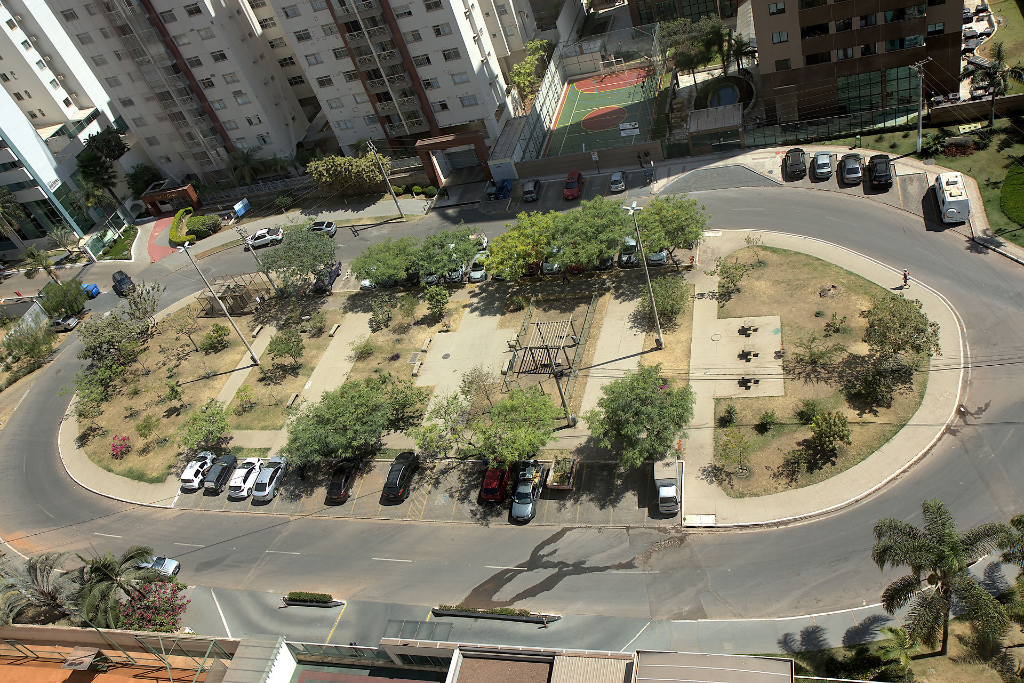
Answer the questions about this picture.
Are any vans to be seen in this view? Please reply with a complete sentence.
Yes, a van can be made out from above.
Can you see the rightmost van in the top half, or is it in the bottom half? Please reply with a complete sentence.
Seen from above, the rightmost van lies in the top half of the view.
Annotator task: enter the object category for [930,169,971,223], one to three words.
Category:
van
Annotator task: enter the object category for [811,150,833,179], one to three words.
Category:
car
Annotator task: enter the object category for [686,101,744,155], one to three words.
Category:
building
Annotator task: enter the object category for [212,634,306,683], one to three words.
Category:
building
